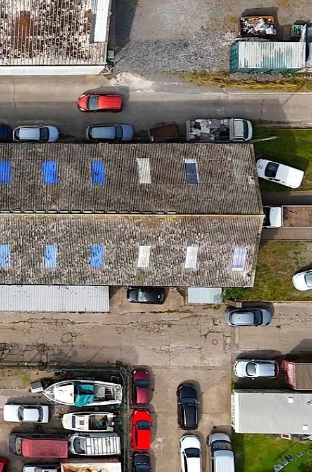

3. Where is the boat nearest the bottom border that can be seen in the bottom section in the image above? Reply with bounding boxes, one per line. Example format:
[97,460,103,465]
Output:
[63,412,119,431]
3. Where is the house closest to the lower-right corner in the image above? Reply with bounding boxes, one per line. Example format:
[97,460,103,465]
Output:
[211,387,312,435]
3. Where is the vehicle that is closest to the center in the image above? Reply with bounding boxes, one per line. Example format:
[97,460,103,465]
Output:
[125,288,165,306]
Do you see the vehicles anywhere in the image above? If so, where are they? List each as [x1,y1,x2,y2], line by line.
[9,431,71,462]
[125,288,165,306]
[257,159,306,191]
[231,358,277,380]
[75,93,122,114]
[177,432,204,472]
[68,431,125,461]
[128,367,152,409]
[21,463,58,472]
[175,382,202,430]
[262,204,312,230]
[84,120,133,141]
[289,268,312,291]
[0,455,9,472]
[279,358,312,392]
[3,403,49,425]
[184,115,251,141]
[129,409,152,451]
[205,432,241,472]
[224,306,270,328]
[130,452,153,472]
[12,121,59,141]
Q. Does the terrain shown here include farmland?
No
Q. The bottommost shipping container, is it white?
Yes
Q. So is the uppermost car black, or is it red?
red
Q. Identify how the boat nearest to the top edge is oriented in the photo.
horizontally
